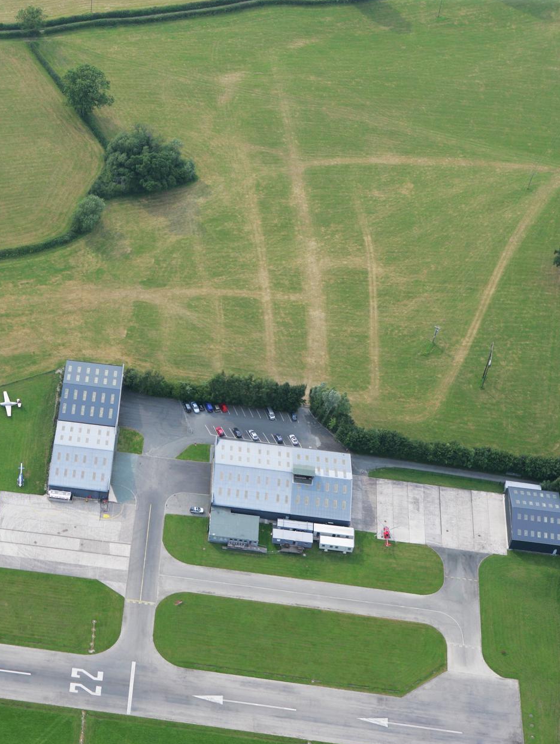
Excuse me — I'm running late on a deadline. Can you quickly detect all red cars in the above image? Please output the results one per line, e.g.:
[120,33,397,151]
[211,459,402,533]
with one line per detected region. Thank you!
[220,402,228,412]
[215,426,223,435]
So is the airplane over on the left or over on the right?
left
